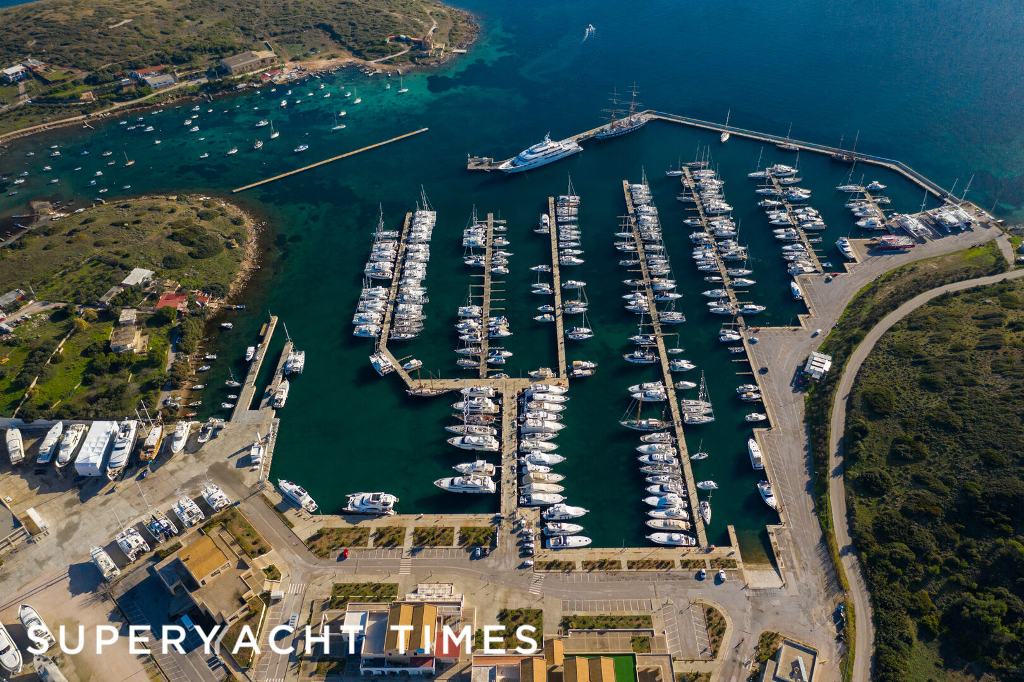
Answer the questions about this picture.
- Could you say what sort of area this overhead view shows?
port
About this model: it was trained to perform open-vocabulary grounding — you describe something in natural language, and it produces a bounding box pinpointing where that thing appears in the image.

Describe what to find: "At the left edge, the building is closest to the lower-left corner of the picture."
[0,502,34,552]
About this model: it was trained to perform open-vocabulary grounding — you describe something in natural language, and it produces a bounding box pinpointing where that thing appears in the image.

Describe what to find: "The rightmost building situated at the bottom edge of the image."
[762,639,819,682]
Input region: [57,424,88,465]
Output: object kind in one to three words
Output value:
boat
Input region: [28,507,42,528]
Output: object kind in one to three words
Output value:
vehicle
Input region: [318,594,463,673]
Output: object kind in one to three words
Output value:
building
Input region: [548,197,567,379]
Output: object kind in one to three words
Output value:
pier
